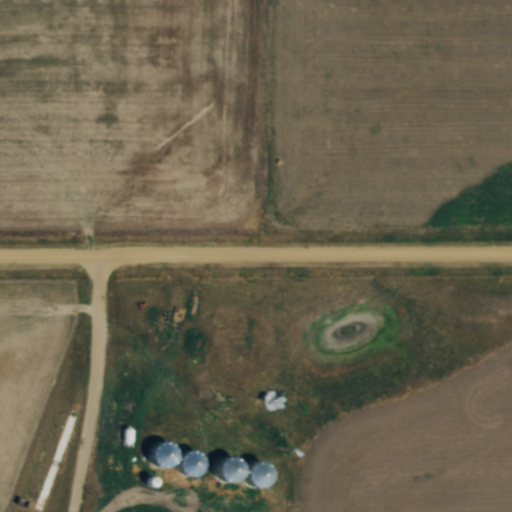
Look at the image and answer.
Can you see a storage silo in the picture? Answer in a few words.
Yes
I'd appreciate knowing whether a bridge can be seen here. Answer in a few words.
No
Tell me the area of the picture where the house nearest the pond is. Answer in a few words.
bottom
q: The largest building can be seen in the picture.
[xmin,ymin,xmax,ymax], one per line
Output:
[262,391,287,413]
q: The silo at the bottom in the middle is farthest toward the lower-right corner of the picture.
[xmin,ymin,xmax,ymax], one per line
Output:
[245,461,278,490]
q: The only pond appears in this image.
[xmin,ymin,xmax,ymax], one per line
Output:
[320,314,385,352]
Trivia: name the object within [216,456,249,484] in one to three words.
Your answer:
silo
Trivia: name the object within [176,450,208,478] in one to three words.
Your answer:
silo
